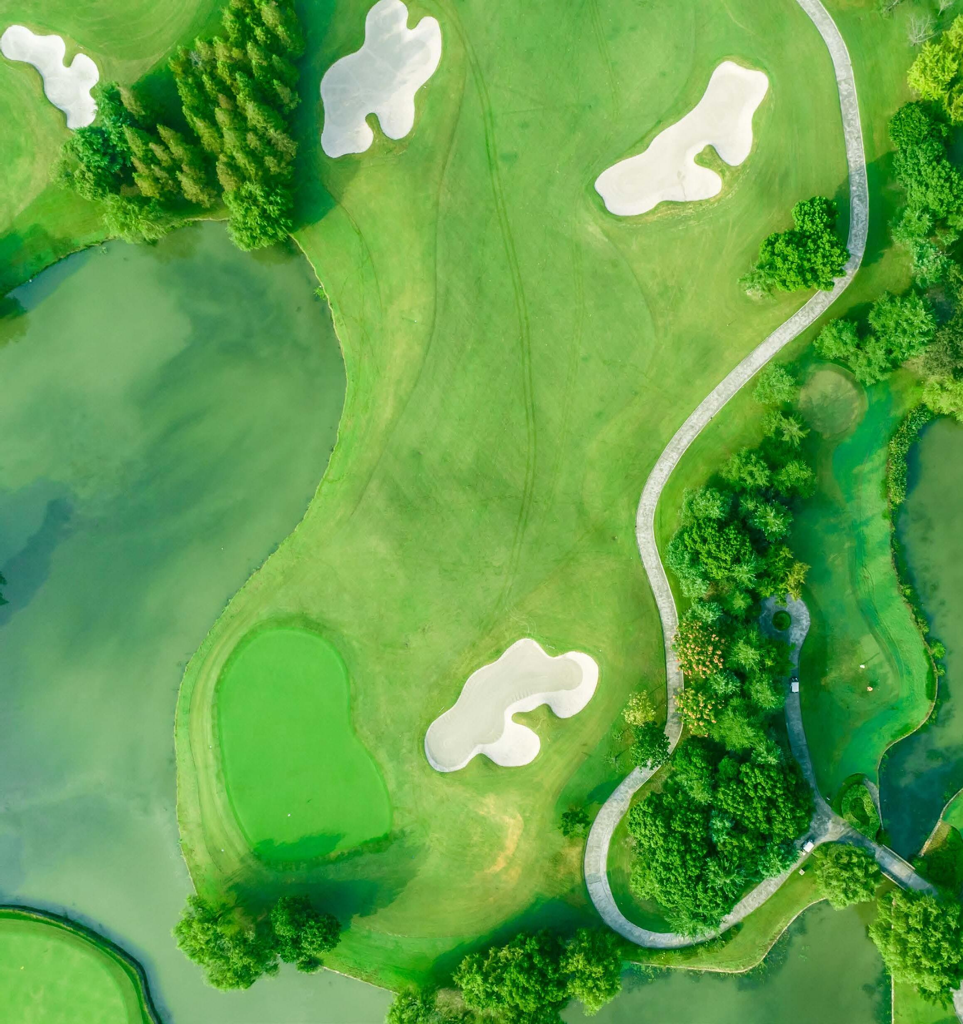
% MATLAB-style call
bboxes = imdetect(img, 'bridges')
[876,843,928,892]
